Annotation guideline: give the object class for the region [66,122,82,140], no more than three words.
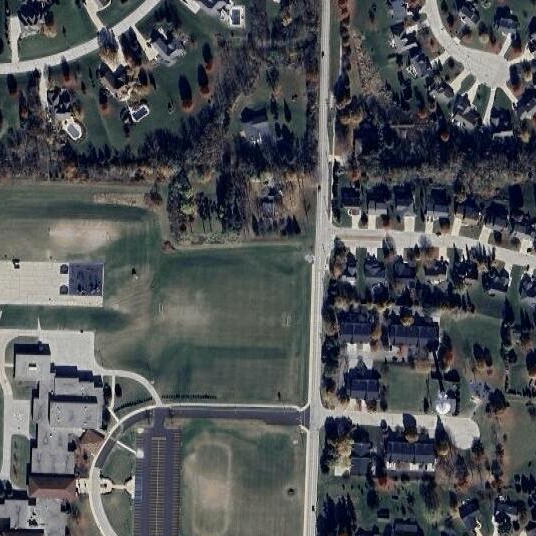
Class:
swimming pool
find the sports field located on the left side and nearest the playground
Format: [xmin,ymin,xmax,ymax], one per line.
[37,215,121,255]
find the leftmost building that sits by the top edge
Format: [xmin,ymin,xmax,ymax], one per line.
[15,2,58,27]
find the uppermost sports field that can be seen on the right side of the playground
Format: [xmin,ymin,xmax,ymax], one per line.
[158,273,294,388]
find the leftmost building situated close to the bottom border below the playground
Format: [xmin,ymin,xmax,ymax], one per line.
[0,354,103,536]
